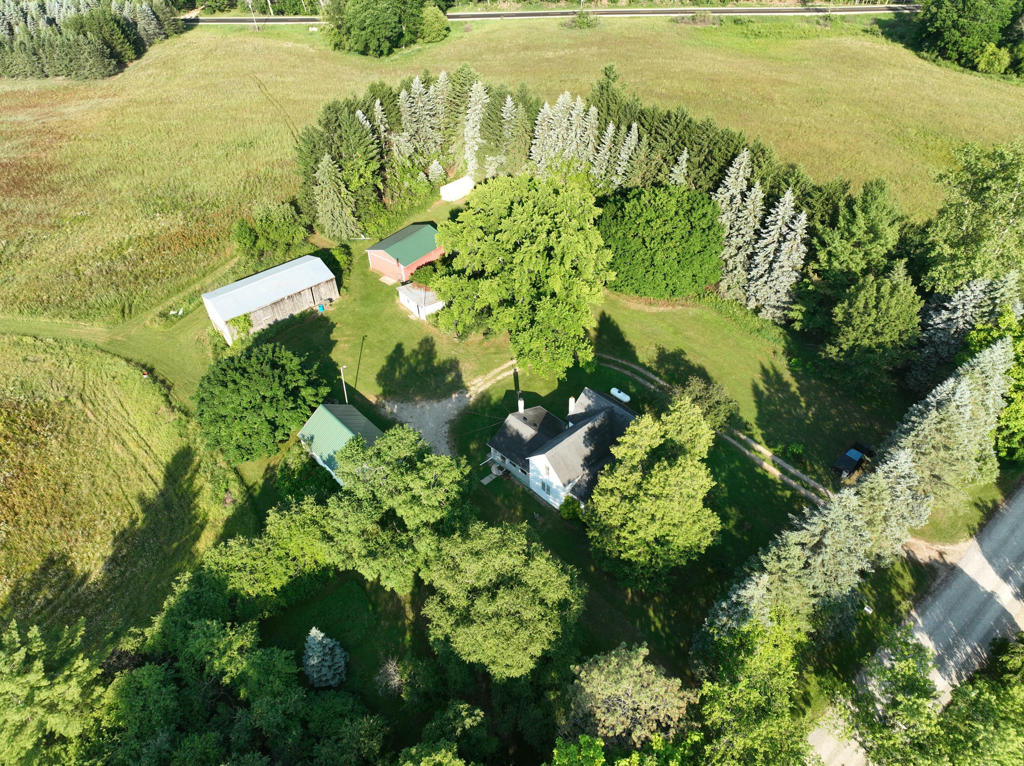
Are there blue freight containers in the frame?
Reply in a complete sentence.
No, I find no blue freight container anywhere in the image.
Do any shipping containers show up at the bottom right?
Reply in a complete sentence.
No, no shipping container is visible at the bottom right.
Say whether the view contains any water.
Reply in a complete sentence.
No, the picture contains no water.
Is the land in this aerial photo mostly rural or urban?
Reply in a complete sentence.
The area shown here is rural.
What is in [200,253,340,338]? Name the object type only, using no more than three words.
barn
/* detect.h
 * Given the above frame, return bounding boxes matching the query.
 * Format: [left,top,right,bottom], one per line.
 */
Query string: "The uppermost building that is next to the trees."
[366,223,448,282]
